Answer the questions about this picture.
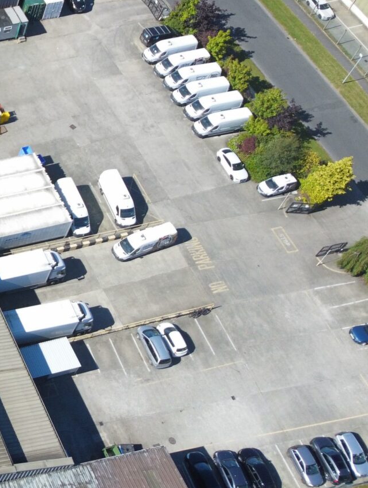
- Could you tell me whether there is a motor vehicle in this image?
Yes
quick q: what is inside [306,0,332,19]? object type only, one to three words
car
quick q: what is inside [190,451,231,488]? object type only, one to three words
car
